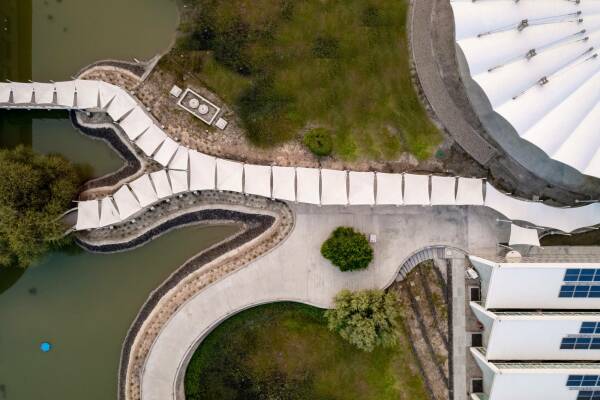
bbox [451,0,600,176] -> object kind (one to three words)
tent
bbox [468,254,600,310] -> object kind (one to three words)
building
